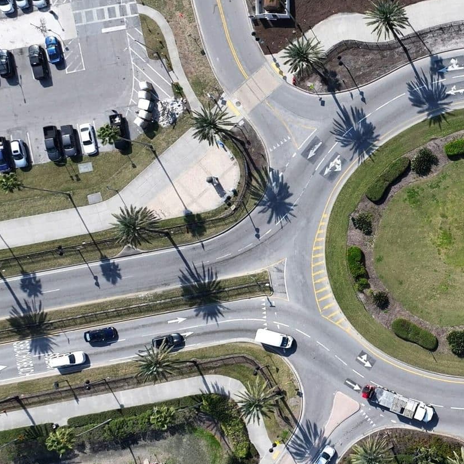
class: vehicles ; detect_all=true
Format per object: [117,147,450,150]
[150,333,187,349]
[0,49,14,81]
[314,444,336,464]
[362,383,375,399]
[80,122,99,155]
[0,136,13,172]
[370,384,437,420]
[32,0,48,8]
[50,351,88,367]
[45,35,63,65]
[42,124,64,161]
[84,327,119,343]
[0,0,16,15]
[16,0,31,11]
[254,328,296,349]
[57,123,79,158]
[8,138,29,169]
[27,45,47,82]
